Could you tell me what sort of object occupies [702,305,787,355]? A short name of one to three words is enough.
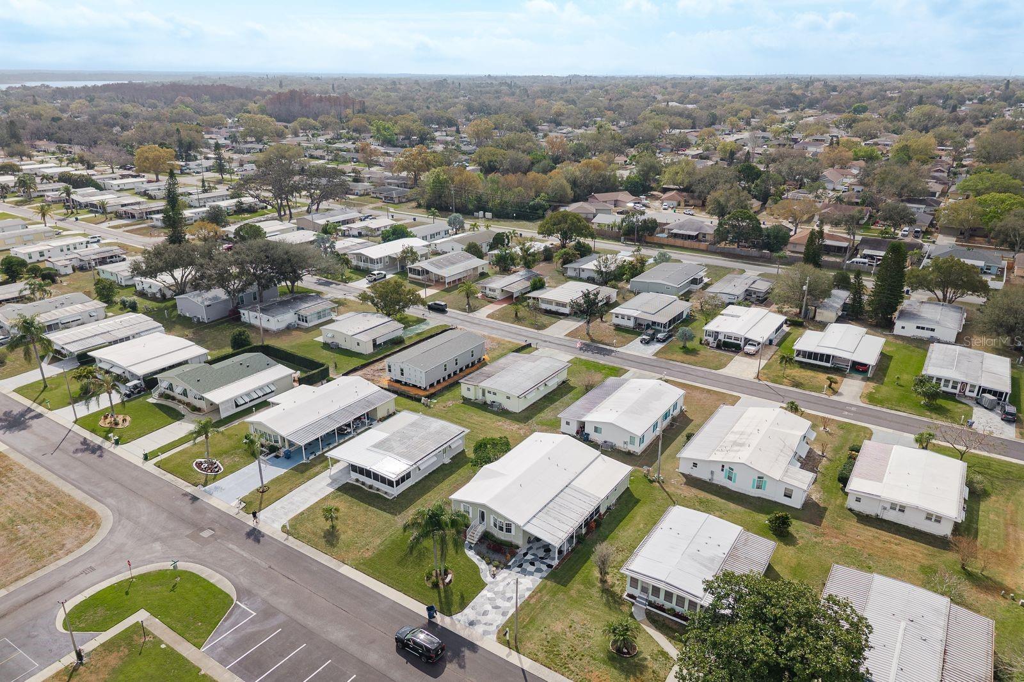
house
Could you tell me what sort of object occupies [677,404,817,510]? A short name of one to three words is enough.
house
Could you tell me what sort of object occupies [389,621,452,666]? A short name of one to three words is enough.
car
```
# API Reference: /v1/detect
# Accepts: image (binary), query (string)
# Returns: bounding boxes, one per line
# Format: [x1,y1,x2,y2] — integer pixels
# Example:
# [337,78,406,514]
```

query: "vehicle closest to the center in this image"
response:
[425,301,451,313]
